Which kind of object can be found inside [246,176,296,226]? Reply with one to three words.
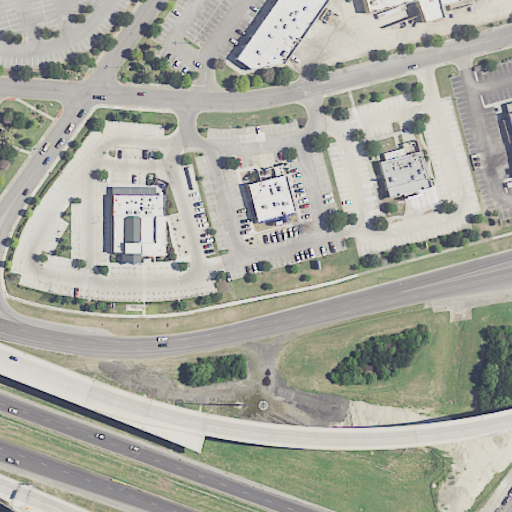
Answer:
building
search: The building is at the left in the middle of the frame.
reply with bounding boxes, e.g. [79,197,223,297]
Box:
[109,186,166,263]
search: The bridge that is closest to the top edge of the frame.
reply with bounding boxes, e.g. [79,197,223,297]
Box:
[0,342,512,454]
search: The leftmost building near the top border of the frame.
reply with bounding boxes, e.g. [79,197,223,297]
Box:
[234,0,328,69]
